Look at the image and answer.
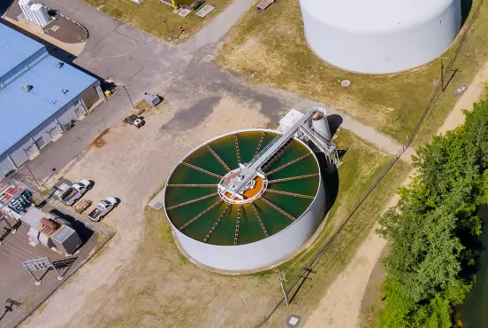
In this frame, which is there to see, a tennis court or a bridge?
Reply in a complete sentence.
It is a bridge that can be seen here.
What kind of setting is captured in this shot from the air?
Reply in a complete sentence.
This looks like an industrial area.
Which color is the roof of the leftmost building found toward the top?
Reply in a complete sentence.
The roof over the leftmost building found toward the top appears blue.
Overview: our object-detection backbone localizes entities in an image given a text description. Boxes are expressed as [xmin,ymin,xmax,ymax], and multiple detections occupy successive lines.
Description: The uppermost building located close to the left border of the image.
[0,24,104,179]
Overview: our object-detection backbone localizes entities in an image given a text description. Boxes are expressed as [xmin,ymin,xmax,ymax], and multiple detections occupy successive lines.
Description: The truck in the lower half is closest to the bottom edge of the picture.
[86,193,122,220]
